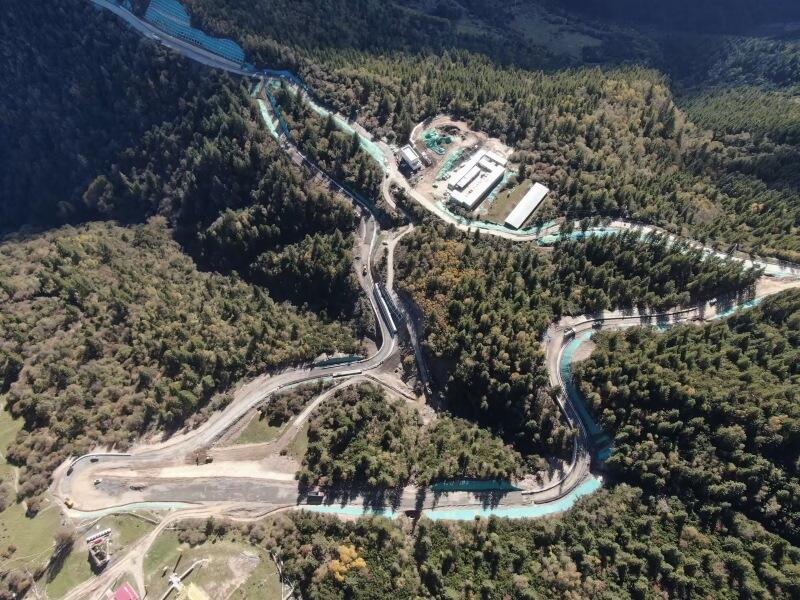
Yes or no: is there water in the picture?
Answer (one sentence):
No, there's no water in this view.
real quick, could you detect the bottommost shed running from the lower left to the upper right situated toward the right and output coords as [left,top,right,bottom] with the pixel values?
[503,182,548,231]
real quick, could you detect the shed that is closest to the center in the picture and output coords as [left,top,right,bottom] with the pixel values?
[370,284,398,334]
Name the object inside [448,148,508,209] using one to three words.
building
